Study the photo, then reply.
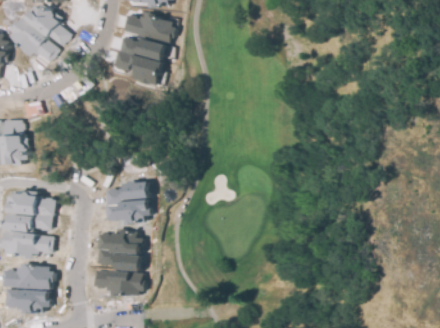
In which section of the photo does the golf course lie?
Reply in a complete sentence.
The golf course sits in the center section of the image.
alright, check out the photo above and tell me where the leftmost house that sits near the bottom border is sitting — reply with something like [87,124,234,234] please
[4,265,53,315]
